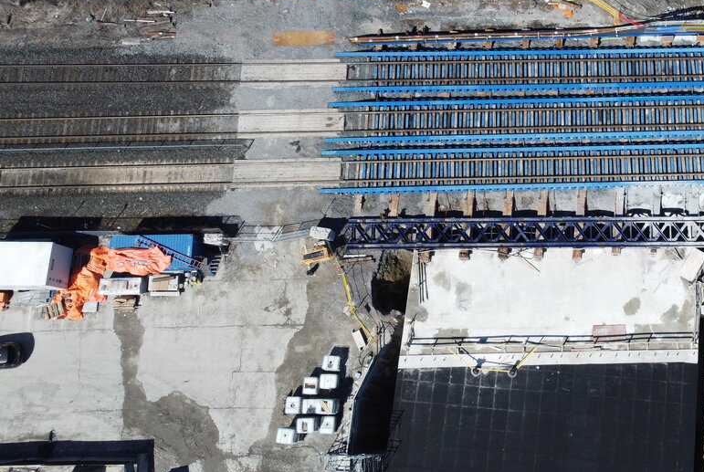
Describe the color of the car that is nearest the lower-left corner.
black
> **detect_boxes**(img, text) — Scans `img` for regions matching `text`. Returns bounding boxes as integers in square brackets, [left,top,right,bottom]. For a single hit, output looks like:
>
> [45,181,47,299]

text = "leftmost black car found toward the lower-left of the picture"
[0,343,21,369]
